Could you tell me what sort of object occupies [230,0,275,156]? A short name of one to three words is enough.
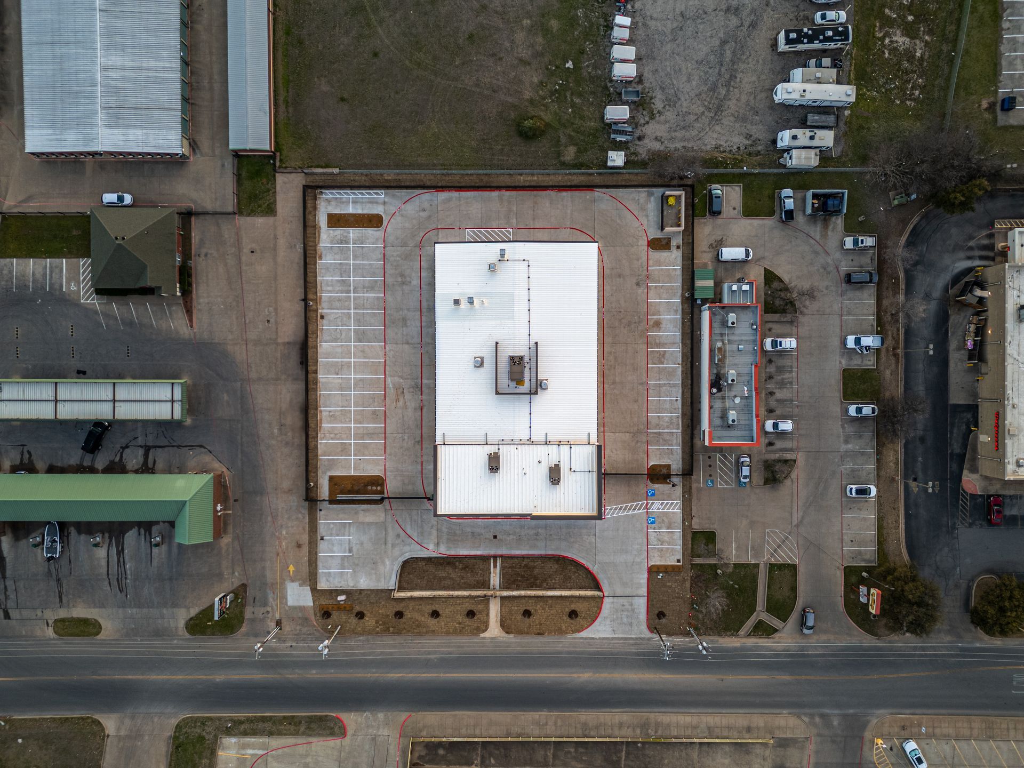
shed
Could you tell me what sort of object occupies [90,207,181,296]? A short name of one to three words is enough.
building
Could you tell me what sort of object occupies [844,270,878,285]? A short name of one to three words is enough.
car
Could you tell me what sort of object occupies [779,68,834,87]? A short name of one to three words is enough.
camper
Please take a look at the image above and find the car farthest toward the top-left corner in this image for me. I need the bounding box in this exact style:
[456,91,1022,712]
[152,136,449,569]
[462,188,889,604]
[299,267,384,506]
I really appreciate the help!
[102,192,134,206]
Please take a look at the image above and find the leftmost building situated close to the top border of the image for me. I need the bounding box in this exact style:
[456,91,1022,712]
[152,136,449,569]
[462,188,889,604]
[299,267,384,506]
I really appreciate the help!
[25,0,190,161]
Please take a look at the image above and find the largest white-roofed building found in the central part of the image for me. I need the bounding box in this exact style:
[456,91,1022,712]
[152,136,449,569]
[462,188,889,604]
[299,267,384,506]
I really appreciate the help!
[434,241,602,520]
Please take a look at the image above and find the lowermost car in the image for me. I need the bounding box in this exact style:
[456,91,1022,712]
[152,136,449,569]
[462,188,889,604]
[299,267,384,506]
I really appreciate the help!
[903,738,927,768]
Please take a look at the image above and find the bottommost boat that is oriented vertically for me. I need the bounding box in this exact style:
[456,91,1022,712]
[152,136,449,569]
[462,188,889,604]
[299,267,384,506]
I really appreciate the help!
[46,522,60,562]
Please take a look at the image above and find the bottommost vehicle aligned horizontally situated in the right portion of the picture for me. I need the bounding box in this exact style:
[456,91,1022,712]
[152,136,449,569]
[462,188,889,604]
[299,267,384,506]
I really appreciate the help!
[845,484,876,498]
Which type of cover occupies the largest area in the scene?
paved ground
